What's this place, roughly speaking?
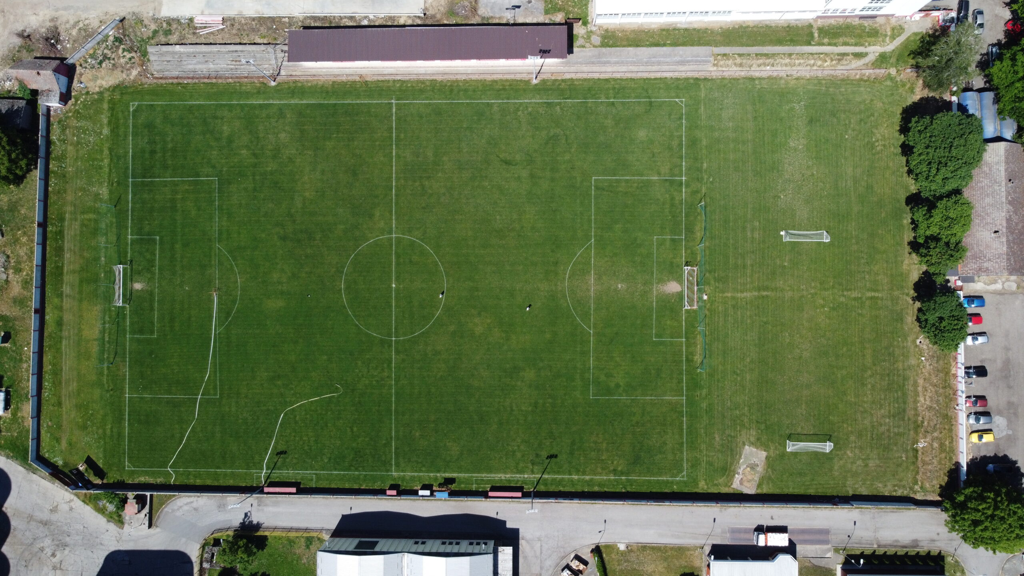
sports ground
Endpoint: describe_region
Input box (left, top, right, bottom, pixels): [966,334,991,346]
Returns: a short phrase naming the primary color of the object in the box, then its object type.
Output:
white vehicle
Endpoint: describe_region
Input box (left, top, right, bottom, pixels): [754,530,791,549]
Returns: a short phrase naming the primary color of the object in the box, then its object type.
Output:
white vehicle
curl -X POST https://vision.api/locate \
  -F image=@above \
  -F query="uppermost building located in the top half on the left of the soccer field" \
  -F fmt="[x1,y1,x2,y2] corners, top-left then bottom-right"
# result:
[9,61,70,106]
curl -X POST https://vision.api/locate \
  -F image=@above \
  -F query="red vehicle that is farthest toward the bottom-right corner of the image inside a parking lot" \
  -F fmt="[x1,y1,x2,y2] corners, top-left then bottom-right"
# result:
[967,397,990,410]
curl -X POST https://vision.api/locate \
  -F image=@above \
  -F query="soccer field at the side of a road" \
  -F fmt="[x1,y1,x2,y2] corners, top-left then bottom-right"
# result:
[109,81,704,490]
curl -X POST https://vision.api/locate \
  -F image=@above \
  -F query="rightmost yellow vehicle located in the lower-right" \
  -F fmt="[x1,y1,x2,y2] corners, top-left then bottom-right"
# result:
[969,431,997,444]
